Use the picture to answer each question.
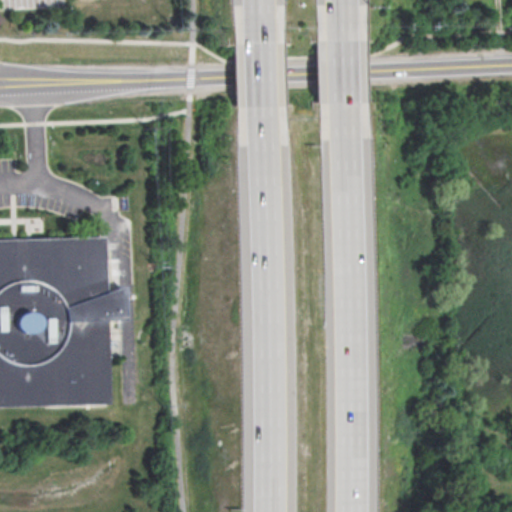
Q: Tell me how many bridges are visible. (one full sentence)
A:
The number of bridges here is 2.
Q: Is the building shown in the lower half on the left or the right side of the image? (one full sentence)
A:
The building shown in the lower half sits on the left side.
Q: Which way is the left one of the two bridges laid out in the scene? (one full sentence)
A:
From this overhead view, the left one of the two bridges appears to run vertically.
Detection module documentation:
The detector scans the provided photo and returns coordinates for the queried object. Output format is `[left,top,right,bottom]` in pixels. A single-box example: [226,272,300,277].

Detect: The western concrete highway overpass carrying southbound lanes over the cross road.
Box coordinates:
[233,4,290,146]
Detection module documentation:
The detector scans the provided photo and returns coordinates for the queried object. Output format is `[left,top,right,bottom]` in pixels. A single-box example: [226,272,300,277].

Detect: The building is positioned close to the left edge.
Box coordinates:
[0,237,132,408]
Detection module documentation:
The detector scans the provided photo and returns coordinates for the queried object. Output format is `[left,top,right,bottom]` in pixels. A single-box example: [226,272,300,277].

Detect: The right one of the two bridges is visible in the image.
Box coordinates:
[314,4,372,146]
